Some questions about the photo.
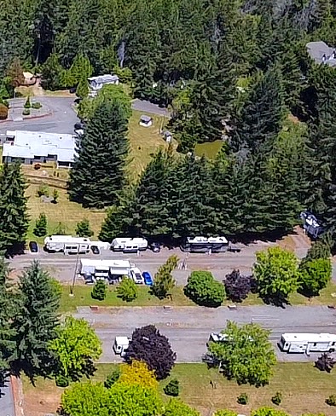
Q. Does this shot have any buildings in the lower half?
No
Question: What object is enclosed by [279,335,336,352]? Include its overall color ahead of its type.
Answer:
white trailer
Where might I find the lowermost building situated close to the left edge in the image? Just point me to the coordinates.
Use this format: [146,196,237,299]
[2,131,77,169]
